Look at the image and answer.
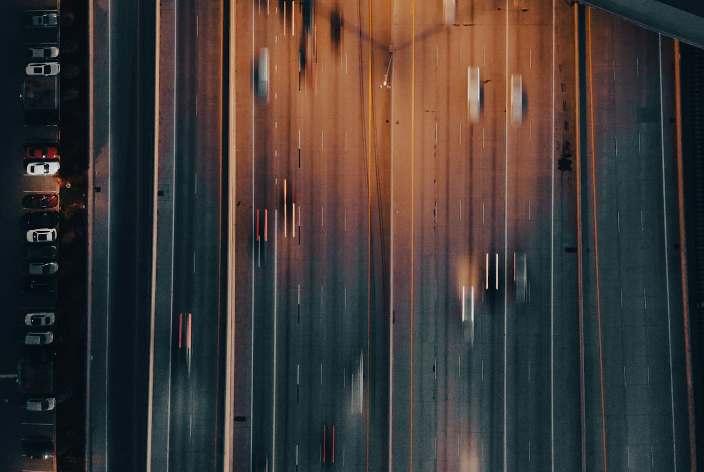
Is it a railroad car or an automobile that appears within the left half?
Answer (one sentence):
The feature located within the left half is an automobile.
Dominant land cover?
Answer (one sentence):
What you mostly see from above here is paved ground.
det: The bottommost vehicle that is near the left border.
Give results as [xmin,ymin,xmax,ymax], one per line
[21,440,55,457]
